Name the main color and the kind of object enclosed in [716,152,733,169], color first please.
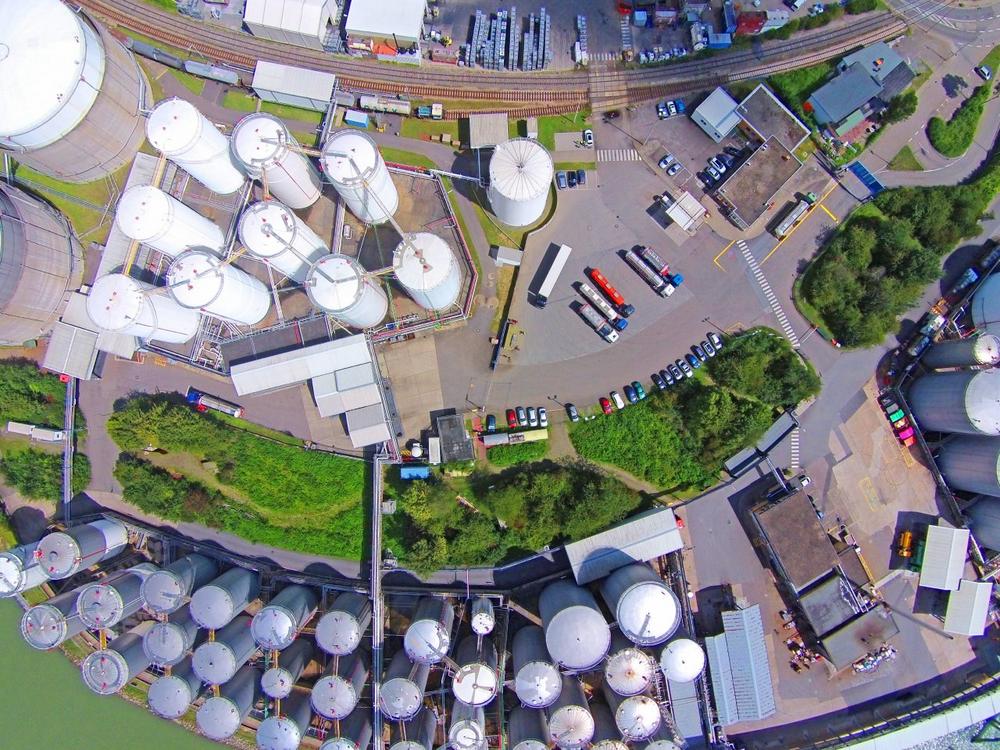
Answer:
blue car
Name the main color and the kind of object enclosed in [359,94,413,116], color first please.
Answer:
white rail car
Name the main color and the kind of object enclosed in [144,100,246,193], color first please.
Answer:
white storage tank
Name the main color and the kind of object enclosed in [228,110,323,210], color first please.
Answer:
white storage tank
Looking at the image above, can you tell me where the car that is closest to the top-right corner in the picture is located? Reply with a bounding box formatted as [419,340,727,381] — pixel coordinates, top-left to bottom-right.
[975,64,991,82]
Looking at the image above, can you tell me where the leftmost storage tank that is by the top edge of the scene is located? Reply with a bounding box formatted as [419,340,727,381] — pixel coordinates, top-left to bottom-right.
[0,0,151,180]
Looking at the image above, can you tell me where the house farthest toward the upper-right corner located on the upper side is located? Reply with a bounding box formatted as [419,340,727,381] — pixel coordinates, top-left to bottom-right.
[802,41,915,141]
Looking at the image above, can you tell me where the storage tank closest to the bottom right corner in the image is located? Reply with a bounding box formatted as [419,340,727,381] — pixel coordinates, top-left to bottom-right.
[962,496,1000,551]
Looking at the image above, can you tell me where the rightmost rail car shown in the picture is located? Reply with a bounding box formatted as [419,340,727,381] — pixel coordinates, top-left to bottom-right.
[418,104,443,119]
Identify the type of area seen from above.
industrial area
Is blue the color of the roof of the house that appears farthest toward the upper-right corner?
Yes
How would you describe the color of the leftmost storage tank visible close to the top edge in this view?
white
